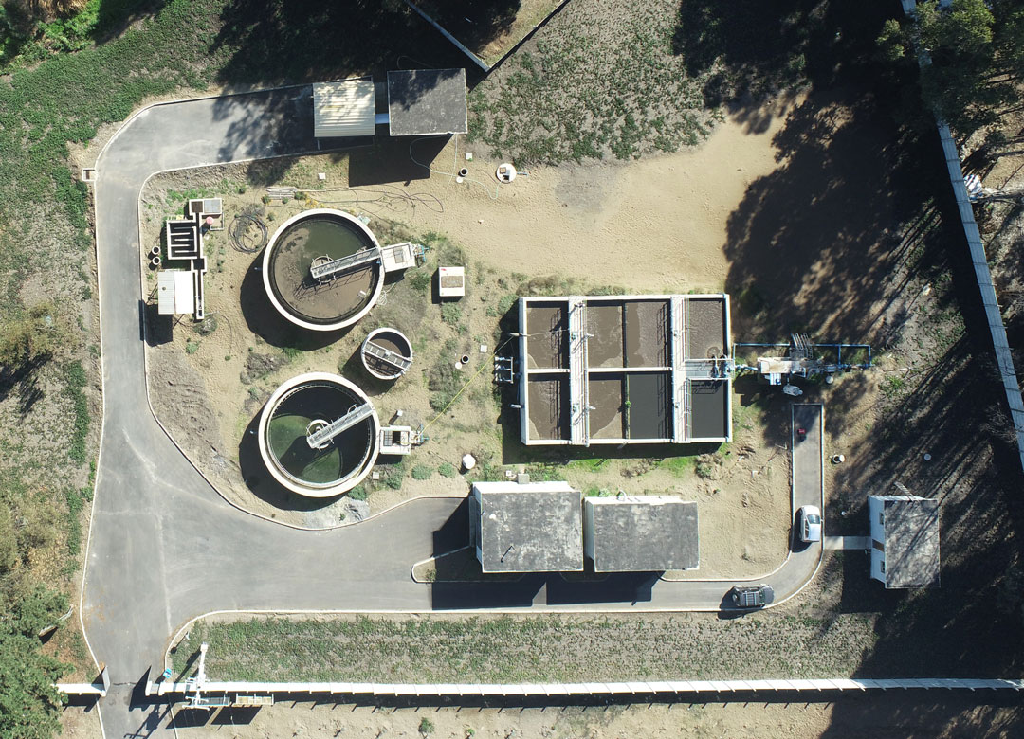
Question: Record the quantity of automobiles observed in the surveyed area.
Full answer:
The count of automobiles comes to 2.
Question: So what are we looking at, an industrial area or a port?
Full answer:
The area seen from above is an industrial area.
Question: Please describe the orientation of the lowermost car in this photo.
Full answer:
I'd say the lowermost car is aligned horizontally in the picture.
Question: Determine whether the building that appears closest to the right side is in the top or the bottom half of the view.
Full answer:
The bottom half of the photo is where the building that appears closest to the right side is.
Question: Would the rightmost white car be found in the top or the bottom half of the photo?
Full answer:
The rightmost white car is in the bottom half of the image.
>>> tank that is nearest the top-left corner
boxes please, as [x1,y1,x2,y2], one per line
[263,209,384,330]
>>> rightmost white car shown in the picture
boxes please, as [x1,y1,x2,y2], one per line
[797,504,821,543]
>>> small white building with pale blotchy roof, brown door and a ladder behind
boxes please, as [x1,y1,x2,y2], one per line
[869,495,943,589]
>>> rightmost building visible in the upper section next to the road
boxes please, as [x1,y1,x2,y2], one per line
[385,67,467,140]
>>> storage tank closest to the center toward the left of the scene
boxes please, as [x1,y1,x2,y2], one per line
[360,327,413,379]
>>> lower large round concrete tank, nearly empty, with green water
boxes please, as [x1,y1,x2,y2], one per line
[258,372,381,496]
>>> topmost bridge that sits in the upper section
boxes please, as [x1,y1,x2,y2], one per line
[311,245,382,277]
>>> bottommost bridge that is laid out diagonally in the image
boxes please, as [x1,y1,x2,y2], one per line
[308,402,375,449]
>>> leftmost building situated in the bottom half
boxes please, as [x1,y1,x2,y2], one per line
[474,483,583,575]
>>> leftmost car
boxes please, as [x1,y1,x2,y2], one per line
[727,584,774,607]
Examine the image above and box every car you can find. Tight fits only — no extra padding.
[727,584,774,607]
[797,504,821,543]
